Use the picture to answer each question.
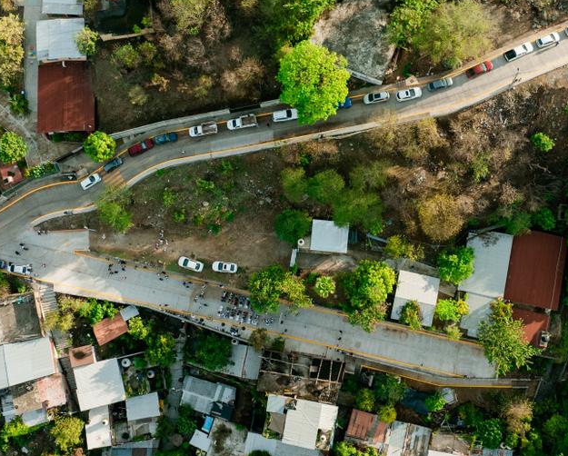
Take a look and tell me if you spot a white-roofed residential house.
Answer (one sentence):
Yes, there's a white-roofed residential house here.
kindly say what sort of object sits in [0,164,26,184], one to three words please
house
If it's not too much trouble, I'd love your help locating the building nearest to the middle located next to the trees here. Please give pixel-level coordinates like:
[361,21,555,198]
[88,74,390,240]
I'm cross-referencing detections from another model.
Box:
[311,220,348,252]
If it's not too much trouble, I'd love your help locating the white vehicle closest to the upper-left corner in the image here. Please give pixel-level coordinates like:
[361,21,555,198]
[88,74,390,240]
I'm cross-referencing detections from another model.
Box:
[77,172,102,192]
